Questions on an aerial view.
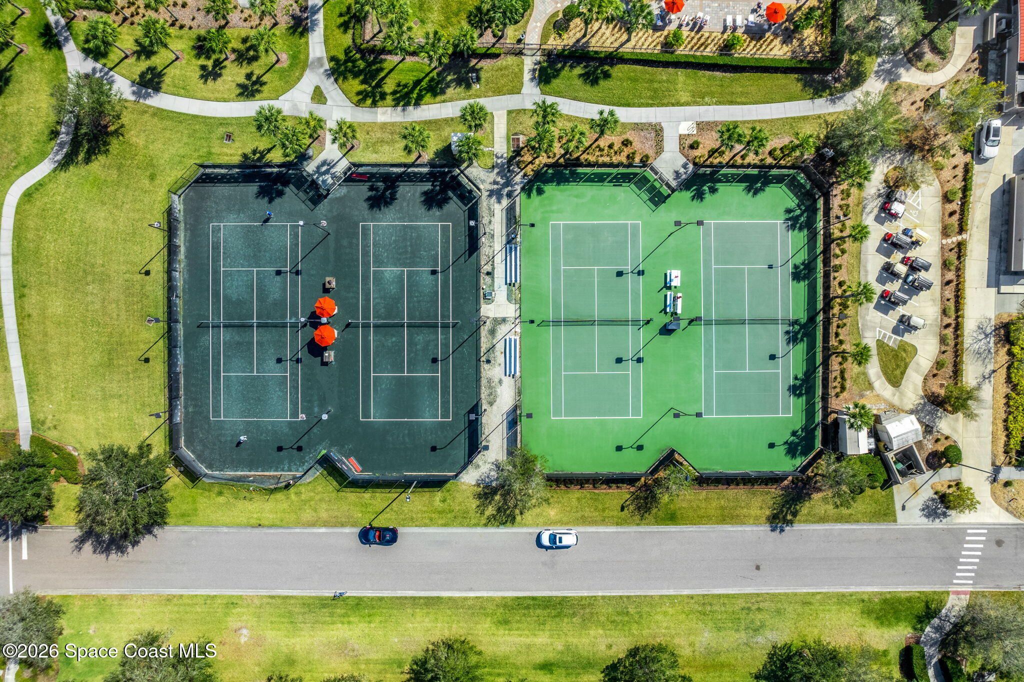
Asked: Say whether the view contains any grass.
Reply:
Yes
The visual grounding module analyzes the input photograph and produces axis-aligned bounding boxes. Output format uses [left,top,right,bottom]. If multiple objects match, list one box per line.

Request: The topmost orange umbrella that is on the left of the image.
[315,297,336,318]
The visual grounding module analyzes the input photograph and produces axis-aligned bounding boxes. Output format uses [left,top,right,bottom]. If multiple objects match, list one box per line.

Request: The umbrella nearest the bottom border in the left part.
[314,325,336,347]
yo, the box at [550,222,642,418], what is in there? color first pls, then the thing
green tennis court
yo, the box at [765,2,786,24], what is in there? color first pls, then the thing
red umbrella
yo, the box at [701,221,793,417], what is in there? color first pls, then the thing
green tennis court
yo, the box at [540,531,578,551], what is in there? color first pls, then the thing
white car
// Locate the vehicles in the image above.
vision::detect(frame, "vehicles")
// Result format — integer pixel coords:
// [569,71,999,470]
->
[904,228,933,246]
[884,233,912,250]
[881,288,910,306]
[882,260,910,278]
[540,531,578,551]
[898,313,926,329]
[905,274,934,292]
[359,528,396,548]
[974,117,1000,159]
[879,200,908,218]
[903,256,932,273]
[882,187,911,204]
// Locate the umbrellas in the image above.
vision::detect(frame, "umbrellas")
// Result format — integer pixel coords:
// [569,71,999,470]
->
[315,297,336,318]
[314,325,336,347]
[664,0,684,15]
[765,2,786,24]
